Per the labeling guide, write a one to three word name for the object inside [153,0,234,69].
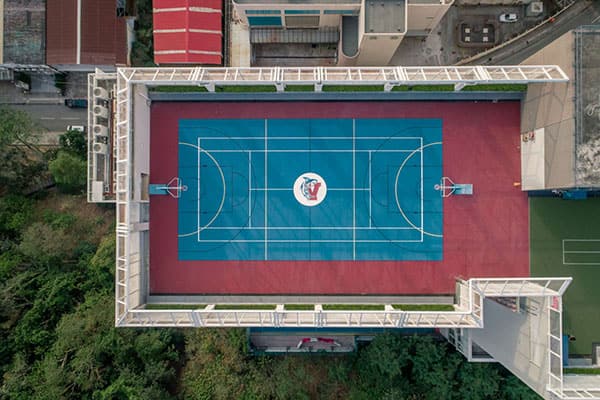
building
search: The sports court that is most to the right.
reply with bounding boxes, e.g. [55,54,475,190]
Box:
[530,190,600,350]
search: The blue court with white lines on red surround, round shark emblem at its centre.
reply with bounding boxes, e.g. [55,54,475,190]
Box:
[150,100,530,294]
